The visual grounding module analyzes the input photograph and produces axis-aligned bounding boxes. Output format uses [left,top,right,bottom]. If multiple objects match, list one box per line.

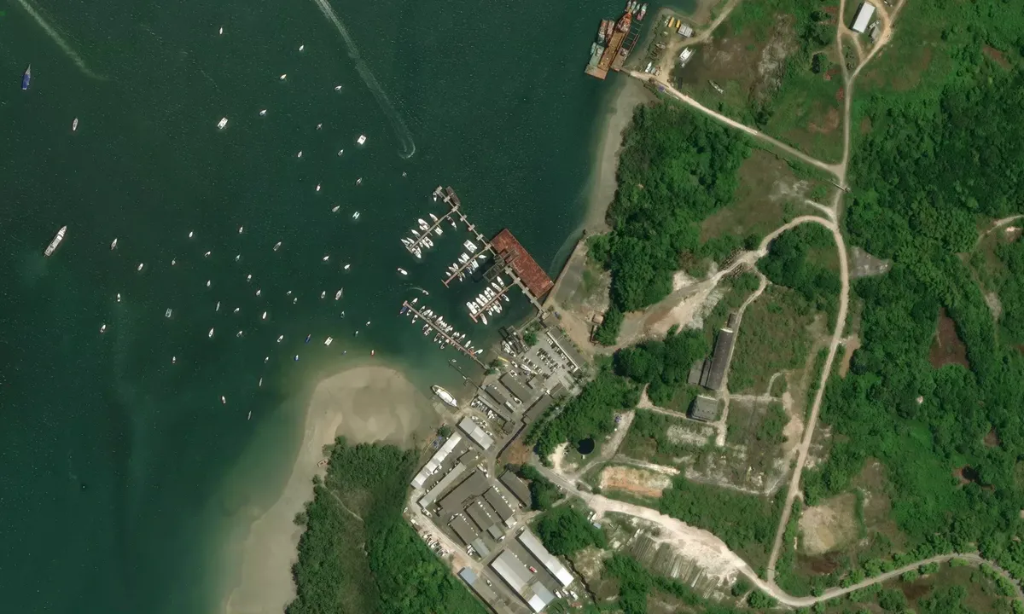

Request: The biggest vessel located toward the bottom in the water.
[431,386,458,408]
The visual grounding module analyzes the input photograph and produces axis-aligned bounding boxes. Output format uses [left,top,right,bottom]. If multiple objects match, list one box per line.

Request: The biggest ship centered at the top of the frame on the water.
[598,12,631,72]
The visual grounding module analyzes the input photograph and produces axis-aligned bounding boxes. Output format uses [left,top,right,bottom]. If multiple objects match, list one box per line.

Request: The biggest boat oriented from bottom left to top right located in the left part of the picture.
[43,227,66,255]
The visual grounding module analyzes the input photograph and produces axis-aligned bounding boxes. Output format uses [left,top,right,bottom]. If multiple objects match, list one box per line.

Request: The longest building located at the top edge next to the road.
[853,1,875,32]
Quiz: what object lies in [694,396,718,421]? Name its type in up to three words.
building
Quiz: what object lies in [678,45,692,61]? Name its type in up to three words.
boat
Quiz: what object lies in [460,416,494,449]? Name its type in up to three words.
building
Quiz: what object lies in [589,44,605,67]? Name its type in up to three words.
ship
